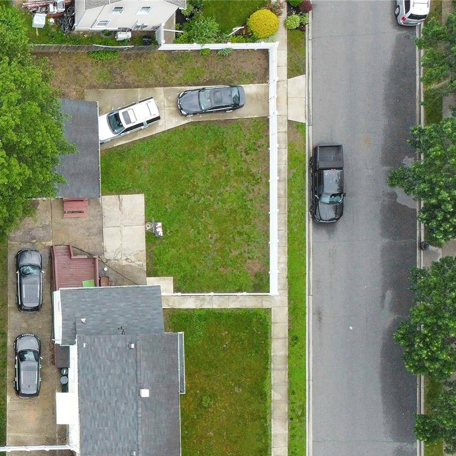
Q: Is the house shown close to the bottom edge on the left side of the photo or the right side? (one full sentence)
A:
It is on the left.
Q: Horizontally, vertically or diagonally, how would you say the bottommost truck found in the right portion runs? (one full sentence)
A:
Seen from above, the bottommost truck found in the right portion lies vertically.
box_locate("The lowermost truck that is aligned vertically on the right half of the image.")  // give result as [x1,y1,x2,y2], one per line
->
[306,144,345,224]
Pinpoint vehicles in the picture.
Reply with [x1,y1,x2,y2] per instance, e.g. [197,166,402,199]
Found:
[390,0,427,31]
[101,97,161,145]
[14,248,45,312]
[306,144,345,224]
[173,86,242,119]
[13,334,43,399]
